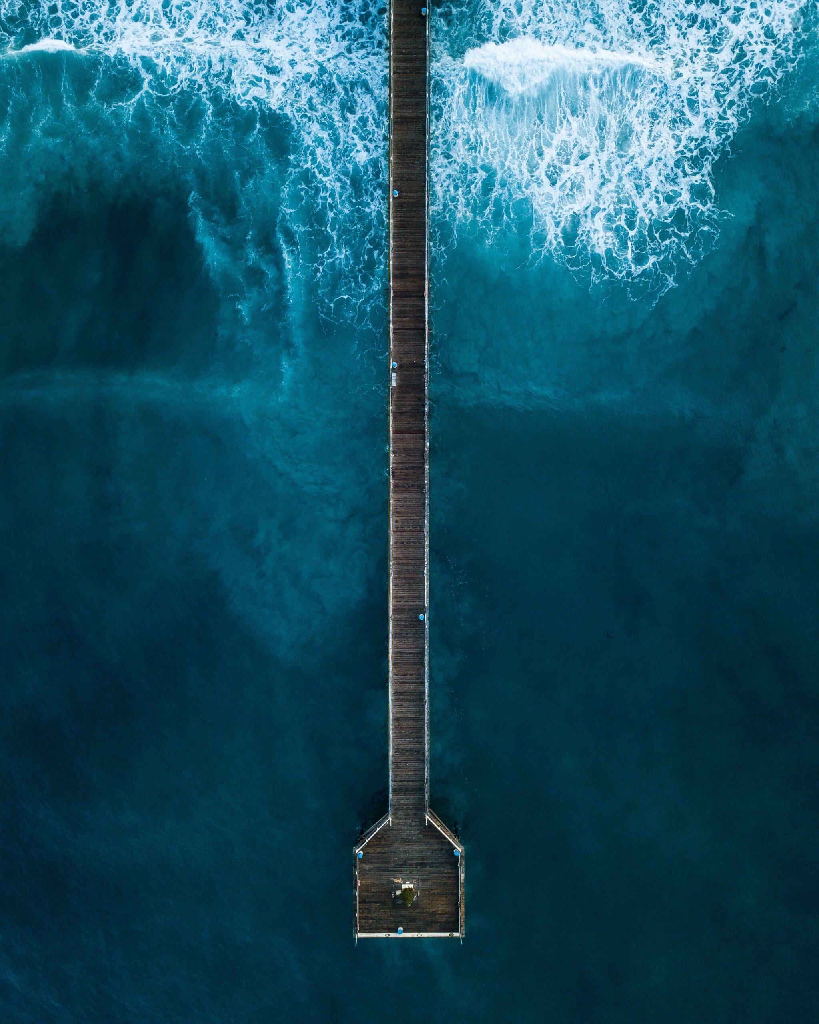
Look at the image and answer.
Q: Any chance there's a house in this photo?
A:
No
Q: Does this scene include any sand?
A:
No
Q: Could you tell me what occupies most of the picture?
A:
water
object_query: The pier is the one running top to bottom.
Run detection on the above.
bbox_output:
[353,0,465,938]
